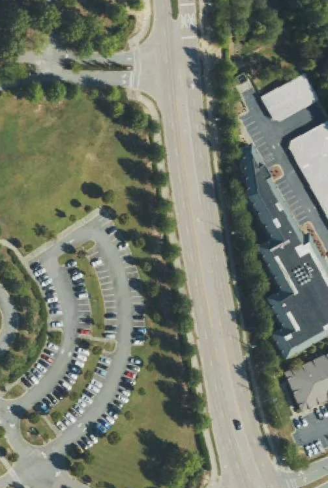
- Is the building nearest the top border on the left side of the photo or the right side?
right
